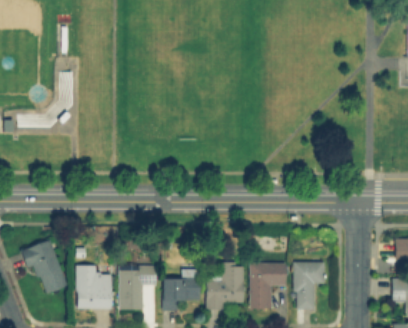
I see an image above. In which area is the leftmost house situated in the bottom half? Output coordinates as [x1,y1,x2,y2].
[21,242,67,292]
